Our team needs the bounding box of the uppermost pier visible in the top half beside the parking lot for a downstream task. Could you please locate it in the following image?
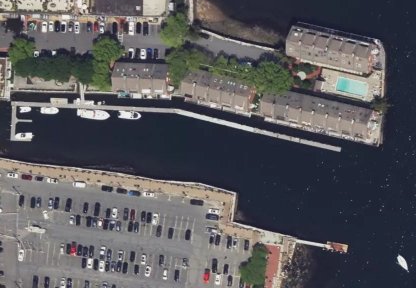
[11,101,174,114]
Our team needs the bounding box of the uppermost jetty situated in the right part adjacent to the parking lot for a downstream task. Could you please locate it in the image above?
[175,109,342,152]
